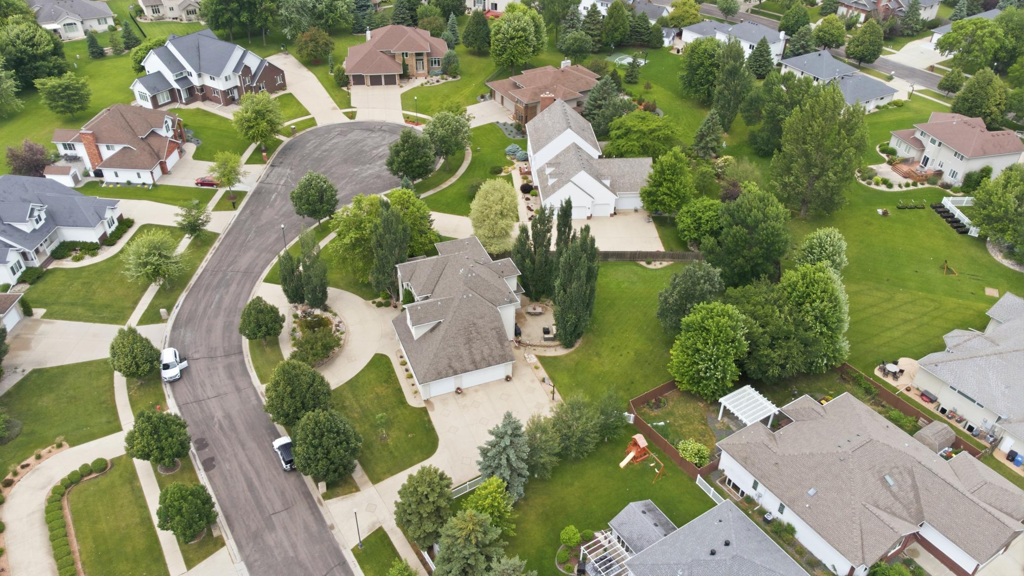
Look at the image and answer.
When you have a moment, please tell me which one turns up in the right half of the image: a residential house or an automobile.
residential house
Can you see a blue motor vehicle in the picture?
No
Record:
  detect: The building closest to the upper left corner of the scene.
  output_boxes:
[33,0,118,39]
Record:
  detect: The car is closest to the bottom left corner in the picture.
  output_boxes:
[158,342,190,380]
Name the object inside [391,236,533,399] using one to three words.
house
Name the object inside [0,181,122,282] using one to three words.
house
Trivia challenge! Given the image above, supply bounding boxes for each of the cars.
[191,174,223,189]
[268,433,300,471]
[158,342,190,380]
